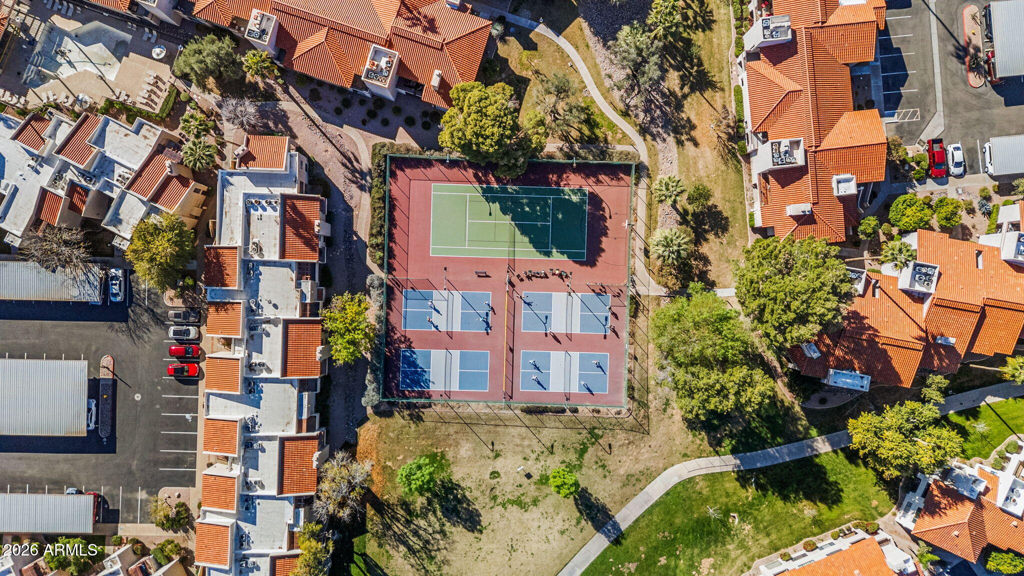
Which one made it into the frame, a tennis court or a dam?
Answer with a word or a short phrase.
tennis court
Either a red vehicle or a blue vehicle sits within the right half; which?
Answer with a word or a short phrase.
red vehicle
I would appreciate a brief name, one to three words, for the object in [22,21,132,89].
swimming pool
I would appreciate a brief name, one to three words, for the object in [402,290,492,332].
sports court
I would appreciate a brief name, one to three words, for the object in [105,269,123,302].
car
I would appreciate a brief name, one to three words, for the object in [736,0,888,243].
building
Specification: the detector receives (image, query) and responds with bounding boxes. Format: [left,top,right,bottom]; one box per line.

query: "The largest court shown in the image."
[384,157,633,404]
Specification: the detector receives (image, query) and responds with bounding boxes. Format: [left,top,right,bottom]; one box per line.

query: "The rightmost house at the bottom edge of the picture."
[888,437,1024,564]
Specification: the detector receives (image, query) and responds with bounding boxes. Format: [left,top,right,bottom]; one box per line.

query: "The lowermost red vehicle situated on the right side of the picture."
[930,137,949,177]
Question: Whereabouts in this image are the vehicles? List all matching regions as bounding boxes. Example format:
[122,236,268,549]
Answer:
[165,363,198,378]
[88,400,96,431]
[166,344,200,359]
[105,269,123,302]
[64,488,79,494]
[86,492,101,526]
[166,326,198,341]
[985,49,1001,83]
[166,309,199,324]
[930,137,949,177]
[949,143,967,175]
[983,141,992,174]
[983,4,992,39]
[91,272,105,303]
